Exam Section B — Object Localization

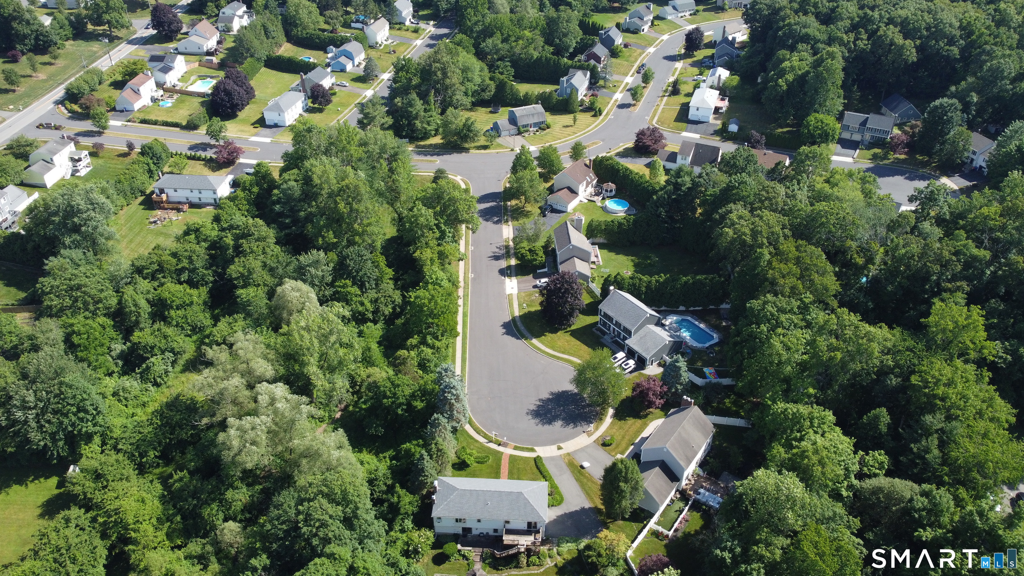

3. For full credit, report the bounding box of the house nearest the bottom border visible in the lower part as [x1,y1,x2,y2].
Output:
[429,477,549,576]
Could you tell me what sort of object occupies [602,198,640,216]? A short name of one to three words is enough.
swimming pool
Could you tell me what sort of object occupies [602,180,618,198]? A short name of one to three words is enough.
gazebo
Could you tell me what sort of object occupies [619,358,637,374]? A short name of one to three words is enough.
car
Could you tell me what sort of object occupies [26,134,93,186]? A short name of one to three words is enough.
house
